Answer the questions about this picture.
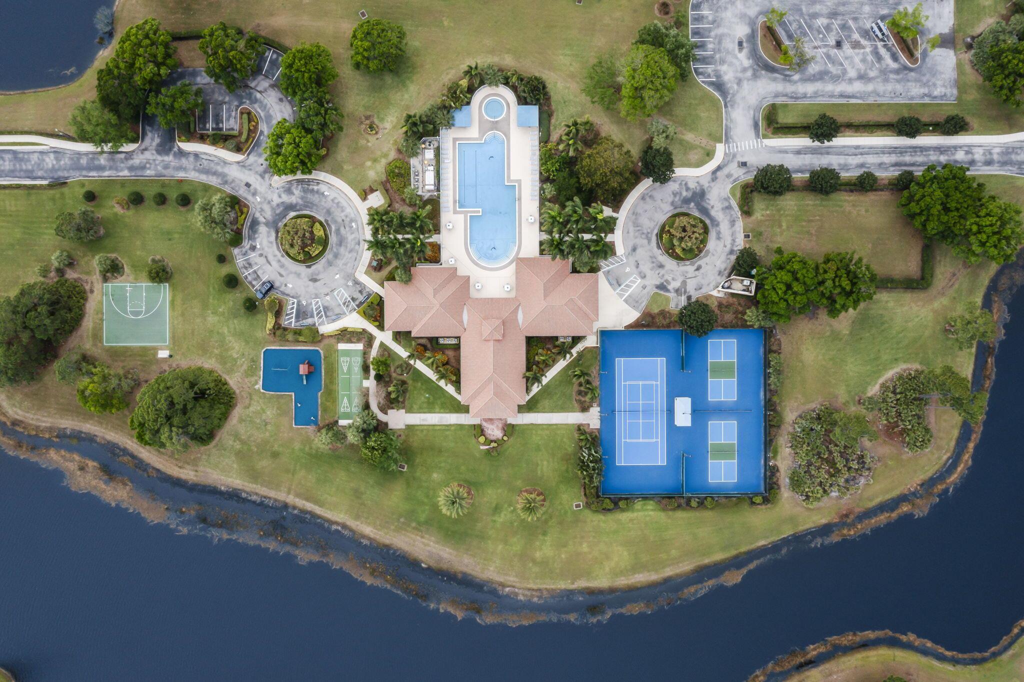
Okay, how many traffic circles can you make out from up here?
two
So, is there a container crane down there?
No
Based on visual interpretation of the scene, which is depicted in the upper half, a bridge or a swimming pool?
swimming pool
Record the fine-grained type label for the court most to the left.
basketball court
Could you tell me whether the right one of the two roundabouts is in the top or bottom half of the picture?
top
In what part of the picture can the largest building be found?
center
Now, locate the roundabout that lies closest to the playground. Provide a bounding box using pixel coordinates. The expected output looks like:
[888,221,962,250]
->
[243,179,364,300]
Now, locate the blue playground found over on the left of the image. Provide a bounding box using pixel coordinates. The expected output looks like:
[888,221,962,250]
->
[260,347,324,427]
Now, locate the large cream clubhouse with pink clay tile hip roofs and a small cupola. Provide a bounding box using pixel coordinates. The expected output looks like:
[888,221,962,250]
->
[384,257,599,418]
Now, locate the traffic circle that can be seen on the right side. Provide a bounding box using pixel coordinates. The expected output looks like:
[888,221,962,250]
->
[623,176,742,297]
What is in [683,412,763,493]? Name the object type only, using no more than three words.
sports court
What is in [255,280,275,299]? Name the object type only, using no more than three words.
car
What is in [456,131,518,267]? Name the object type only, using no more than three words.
swimming pool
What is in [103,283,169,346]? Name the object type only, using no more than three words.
basketball court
